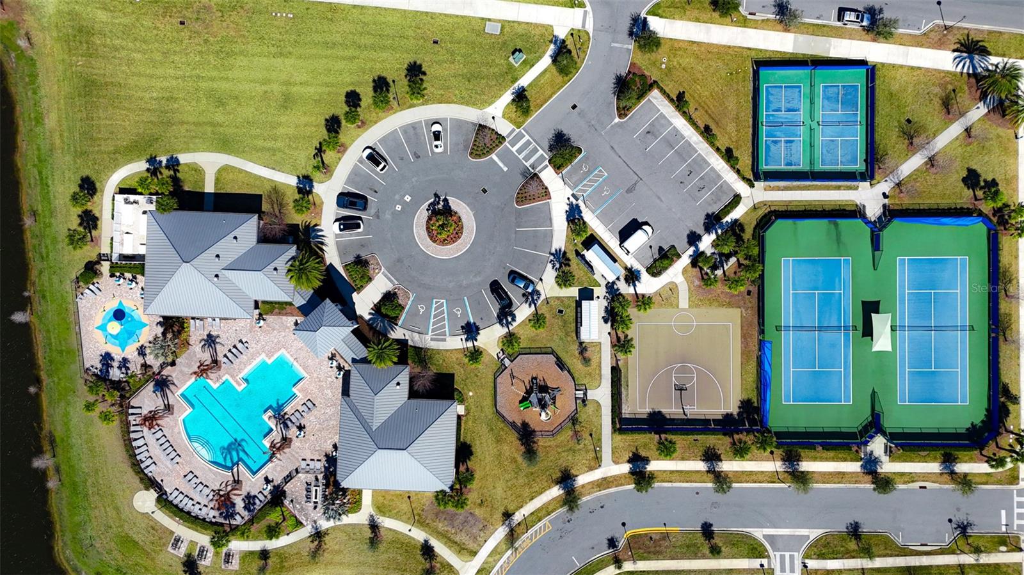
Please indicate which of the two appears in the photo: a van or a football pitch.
van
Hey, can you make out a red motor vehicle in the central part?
No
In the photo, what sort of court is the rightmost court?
tennis court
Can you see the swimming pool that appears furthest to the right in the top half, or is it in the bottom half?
bottom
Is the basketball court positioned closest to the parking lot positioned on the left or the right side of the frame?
right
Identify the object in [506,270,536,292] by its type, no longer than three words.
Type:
car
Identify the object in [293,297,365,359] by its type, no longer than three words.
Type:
building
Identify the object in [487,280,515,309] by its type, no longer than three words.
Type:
car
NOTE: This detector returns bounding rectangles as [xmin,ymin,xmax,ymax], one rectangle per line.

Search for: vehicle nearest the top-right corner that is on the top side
[840,11,871,29]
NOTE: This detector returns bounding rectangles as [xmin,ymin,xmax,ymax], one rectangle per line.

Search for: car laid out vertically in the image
[430,123,445,153]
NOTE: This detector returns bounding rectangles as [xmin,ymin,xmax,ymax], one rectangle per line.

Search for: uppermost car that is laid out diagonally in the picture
[362,146,390,174]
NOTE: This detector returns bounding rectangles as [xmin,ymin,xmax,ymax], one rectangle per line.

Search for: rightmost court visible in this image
[878,219,990,441]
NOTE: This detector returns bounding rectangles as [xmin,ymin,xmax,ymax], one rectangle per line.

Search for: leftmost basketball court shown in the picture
[628,308,741,414]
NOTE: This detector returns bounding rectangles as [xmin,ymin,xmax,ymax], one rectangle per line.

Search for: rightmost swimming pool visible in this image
[176,348,310,481]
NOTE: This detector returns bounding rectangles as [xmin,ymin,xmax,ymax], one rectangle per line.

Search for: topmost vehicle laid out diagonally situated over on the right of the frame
[618,226,652,257]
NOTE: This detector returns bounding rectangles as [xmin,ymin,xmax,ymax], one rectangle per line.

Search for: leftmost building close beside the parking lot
[143,210,299,319]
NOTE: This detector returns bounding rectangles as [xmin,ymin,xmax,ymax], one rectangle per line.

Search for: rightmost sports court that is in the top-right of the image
[811,69,869,178]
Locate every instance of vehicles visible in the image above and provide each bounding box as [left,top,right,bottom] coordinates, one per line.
[430,123,445,153]
[362,146,390,174]
[487,280,515,309]
[335,219,364,233]
[618,226,652,257]
[506,270,536,292]
[840,11,871,29]
[336,195,369,211]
